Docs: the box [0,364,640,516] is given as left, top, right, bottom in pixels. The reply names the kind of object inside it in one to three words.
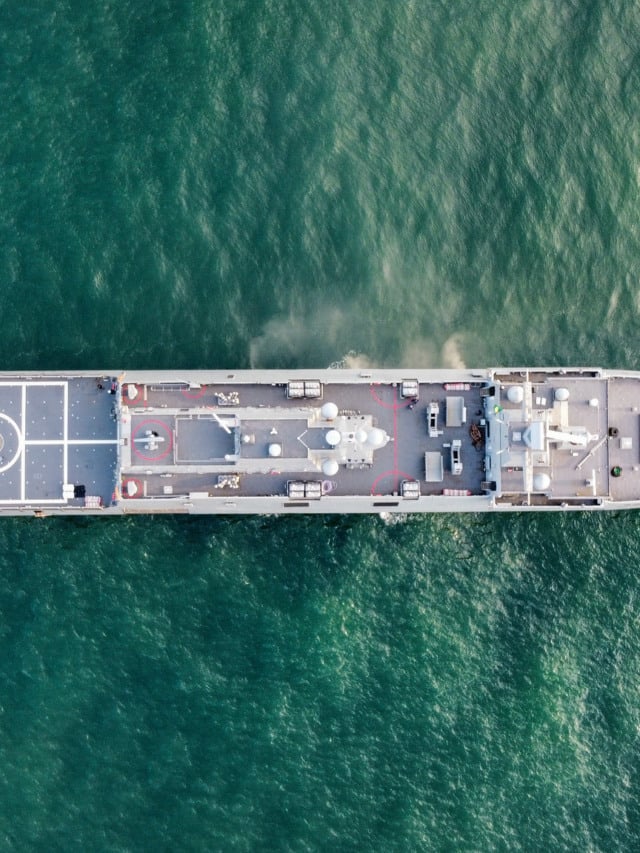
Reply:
ship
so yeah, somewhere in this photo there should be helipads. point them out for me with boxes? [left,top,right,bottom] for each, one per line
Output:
[0,375,116,509]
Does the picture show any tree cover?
No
